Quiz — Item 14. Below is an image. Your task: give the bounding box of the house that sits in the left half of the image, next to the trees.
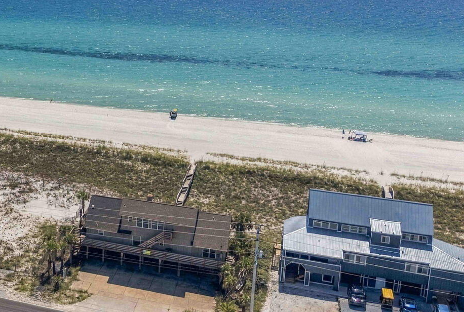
[70,191,233,283]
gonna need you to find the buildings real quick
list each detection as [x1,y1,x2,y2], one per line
[70,191,233,283]
[279,187,464,302]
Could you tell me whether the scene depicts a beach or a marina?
beach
